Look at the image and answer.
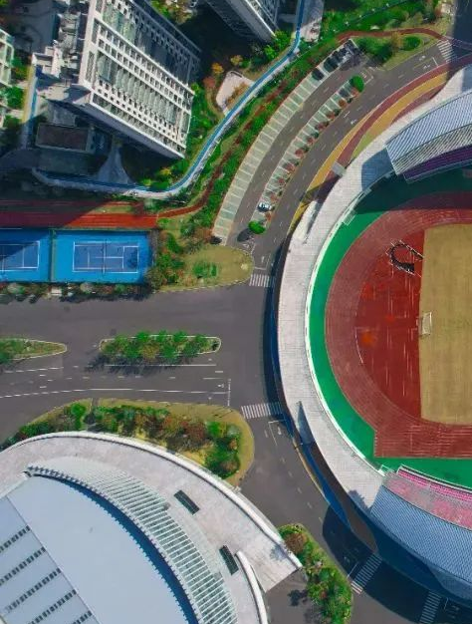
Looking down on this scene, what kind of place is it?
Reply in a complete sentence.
This looks like a sports ground.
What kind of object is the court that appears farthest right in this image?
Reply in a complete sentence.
What you see as the court that appears farthest right is a tennis court.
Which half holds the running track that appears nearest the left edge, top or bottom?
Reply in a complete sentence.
The running track that appears nearest the left edge is in the top half of the image.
